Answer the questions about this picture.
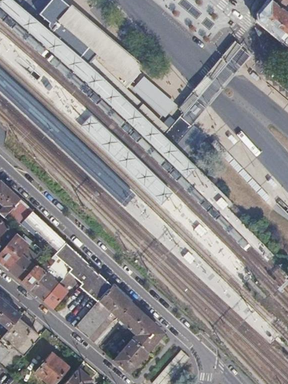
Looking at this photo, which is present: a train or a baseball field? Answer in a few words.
train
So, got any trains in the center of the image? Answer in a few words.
Yes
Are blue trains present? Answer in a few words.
No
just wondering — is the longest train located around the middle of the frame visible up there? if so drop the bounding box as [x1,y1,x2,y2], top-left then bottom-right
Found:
[48,54,250,250]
